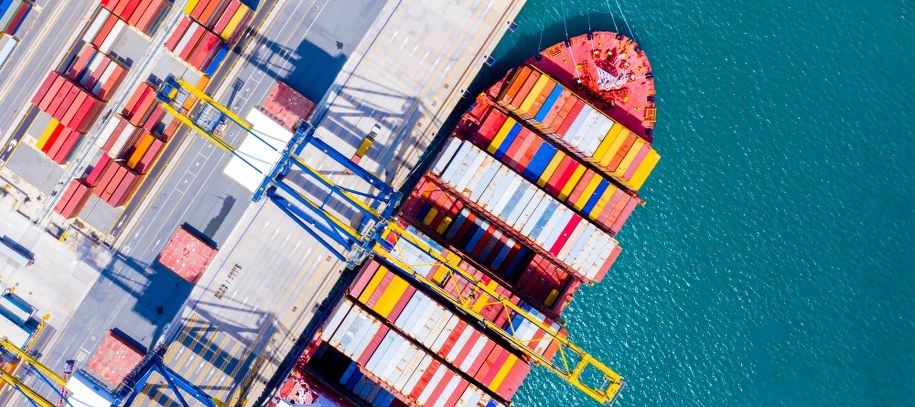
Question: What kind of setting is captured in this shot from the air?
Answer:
port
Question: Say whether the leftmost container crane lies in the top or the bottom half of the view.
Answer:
bottom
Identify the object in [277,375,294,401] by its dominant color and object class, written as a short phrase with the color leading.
red boat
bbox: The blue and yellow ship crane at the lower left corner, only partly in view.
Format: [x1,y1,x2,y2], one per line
[0,332,257,407]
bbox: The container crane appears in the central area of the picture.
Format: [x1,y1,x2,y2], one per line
[149,72,628,407]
